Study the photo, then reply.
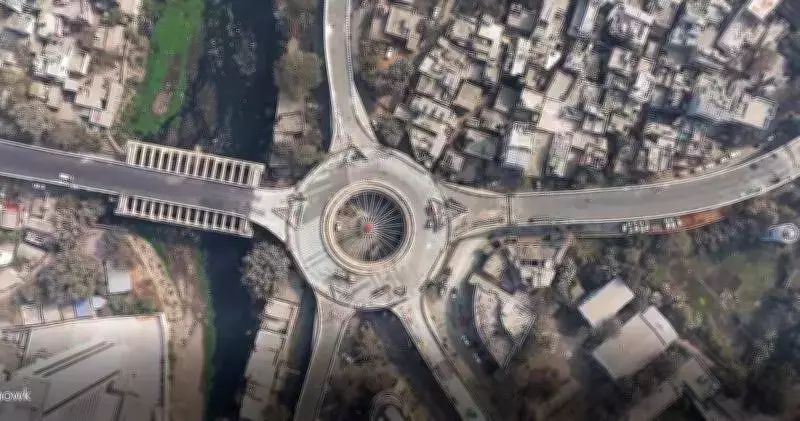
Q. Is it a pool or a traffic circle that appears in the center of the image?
traffic circle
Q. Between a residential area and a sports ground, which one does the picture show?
residential area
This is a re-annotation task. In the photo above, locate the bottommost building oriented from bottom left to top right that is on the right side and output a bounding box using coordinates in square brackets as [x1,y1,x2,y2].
[619,378,685,421]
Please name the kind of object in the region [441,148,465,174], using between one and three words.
house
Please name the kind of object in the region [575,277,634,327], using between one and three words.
building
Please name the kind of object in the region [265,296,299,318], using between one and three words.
shed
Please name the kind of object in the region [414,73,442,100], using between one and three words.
house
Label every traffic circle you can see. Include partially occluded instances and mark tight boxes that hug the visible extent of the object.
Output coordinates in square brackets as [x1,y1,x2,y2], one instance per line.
[286,145,450,310]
